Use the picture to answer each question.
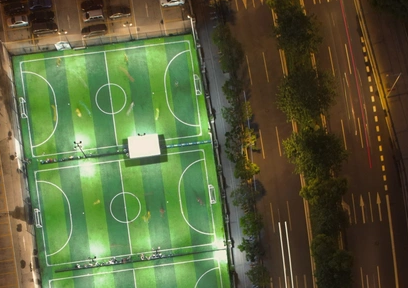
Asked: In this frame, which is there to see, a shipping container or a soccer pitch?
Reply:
soccer pitch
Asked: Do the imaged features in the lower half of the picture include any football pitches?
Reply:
Yes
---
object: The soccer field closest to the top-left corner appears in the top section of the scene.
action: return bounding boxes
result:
[11,34,205,165]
